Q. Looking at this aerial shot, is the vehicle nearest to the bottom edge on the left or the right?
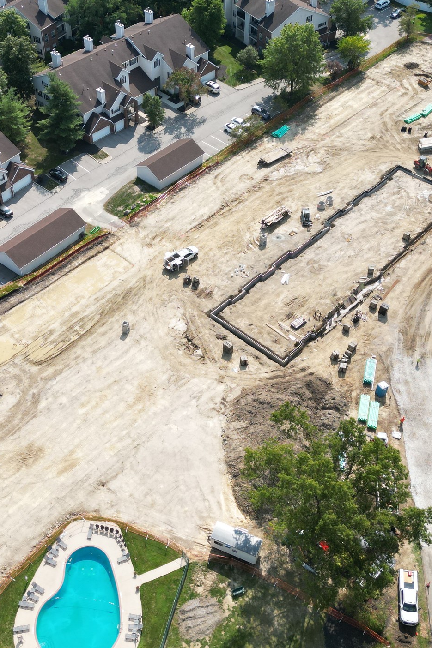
right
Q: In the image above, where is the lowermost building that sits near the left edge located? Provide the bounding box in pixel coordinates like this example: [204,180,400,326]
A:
[0,203,88,275]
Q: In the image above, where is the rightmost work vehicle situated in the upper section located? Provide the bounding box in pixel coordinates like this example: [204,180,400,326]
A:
[414,157,432,176]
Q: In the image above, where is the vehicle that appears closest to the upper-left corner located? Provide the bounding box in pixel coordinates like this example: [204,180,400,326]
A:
[48,168,70,183]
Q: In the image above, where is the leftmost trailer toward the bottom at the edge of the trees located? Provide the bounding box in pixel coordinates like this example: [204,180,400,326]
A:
[212,519,264,563]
